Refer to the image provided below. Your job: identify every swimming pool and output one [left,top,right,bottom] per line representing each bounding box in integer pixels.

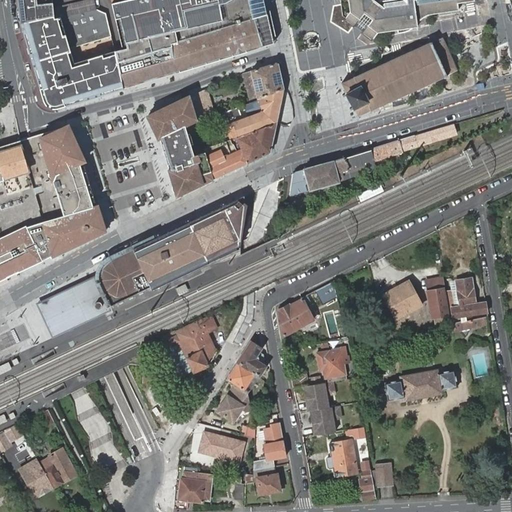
[470,352,490,379]
[323,310,340,338]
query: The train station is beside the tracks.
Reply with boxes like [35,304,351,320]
[0,240,276,425]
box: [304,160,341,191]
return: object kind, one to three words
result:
house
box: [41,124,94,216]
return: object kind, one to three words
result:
building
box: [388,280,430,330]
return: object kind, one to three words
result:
barn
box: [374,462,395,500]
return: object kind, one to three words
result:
shed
